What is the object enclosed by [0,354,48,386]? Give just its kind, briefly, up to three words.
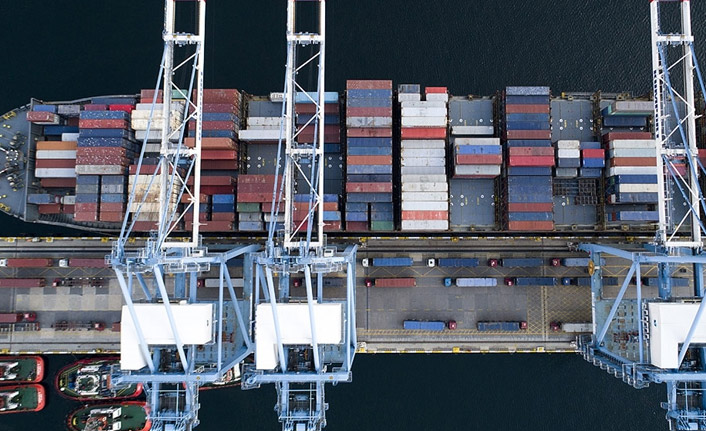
boat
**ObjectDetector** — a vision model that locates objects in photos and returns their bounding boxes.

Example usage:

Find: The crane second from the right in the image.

[241,0,376,431]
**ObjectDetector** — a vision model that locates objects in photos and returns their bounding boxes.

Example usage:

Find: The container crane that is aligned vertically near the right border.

[560,0,706,431]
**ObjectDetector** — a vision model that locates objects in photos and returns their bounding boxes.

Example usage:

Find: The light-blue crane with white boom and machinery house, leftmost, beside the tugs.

[110,0,276,431]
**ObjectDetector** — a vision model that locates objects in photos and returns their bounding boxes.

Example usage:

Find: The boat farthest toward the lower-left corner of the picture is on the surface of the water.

[0,383,48,417]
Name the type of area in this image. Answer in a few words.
port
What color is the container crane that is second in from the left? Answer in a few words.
white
